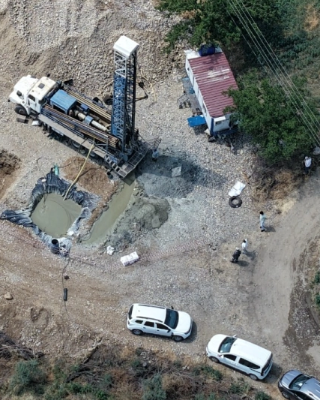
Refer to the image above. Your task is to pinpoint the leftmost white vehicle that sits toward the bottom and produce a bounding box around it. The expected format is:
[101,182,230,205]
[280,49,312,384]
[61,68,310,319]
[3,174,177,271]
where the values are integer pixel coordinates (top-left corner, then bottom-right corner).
[126,301,198,344]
